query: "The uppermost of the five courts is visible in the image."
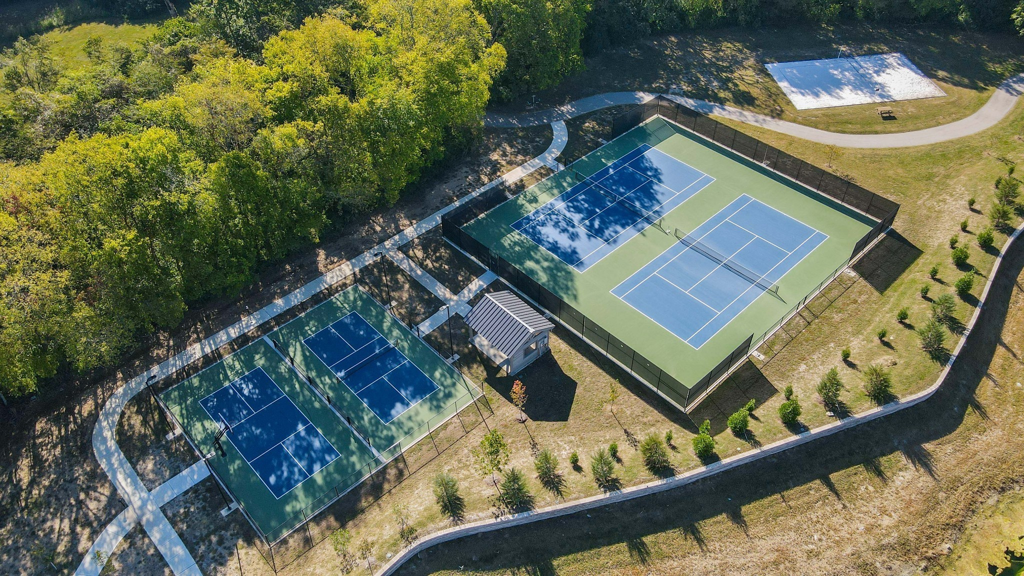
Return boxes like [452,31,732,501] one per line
[763,52,948,111]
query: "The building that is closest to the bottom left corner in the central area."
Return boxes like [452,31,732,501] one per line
[463,290,556,376]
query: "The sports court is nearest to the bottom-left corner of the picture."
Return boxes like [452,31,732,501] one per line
[161,338,383,545]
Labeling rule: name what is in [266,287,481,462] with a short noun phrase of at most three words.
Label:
sports court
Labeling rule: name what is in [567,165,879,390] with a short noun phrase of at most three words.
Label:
tennis court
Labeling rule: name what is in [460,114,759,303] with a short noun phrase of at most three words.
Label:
tennis court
